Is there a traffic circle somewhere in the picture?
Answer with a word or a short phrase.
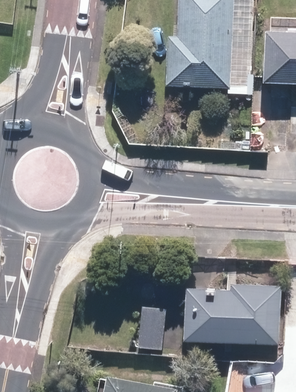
Yes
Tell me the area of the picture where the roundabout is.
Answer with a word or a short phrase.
left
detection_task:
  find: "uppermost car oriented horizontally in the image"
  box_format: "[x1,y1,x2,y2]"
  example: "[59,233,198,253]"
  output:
[4,118,32,132]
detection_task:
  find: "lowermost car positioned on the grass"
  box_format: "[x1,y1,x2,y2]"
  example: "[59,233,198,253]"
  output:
[153,28,168,56]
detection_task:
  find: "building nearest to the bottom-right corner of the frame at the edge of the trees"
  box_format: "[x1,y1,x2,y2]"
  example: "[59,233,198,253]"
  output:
[184,284,282,346]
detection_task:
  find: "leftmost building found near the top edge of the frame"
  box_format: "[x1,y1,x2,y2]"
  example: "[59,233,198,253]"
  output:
[166,0,234,88]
